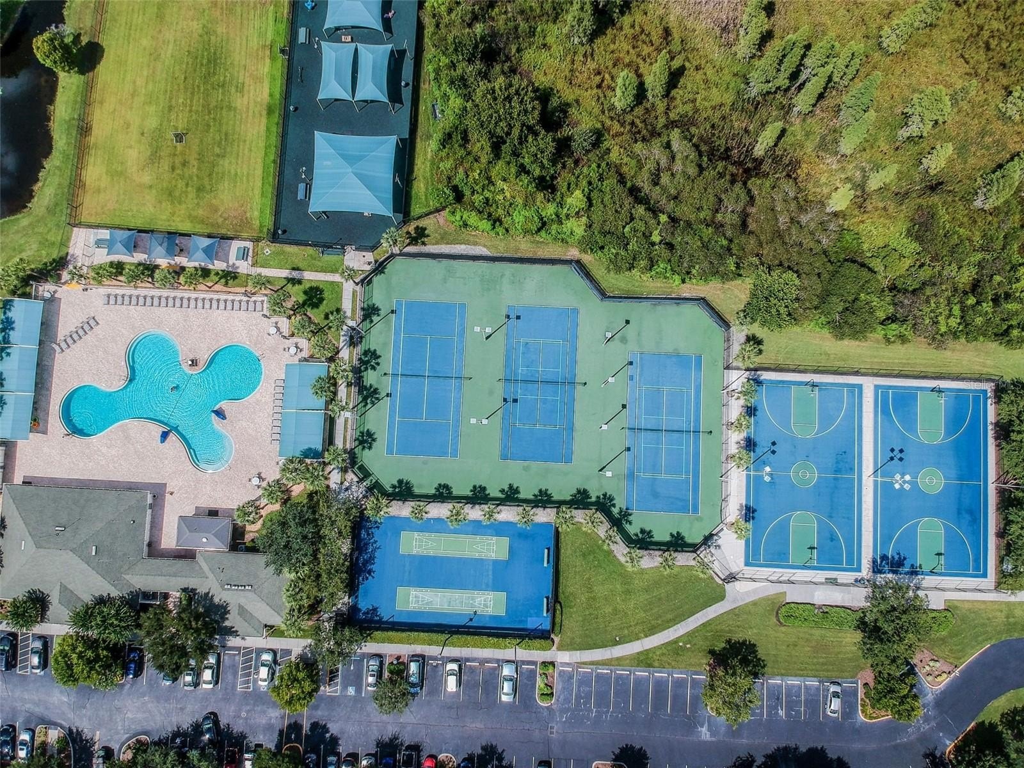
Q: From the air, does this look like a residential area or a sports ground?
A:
sports ground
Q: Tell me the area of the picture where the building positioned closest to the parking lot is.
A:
bottom left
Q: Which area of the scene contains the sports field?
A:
top left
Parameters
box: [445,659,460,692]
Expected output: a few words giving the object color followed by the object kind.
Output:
white car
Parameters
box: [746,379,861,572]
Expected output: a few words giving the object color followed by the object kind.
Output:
blue basketball court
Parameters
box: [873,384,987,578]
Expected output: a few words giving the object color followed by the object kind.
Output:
blue basketball court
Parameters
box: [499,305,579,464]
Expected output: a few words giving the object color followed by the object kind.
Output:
blue tennis court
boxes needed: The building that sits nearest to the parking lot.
[0,484,286,637]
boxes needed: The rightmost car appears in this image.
[825,680,842,717]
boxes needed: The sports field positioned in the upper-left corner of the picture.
[73,0,286,238]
